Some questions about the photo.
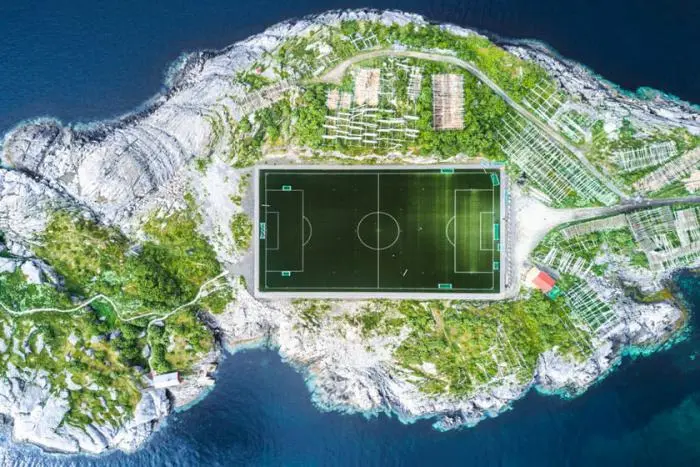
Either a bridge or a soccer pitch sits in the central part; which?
soccer pitch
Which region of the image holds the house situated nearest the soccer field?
right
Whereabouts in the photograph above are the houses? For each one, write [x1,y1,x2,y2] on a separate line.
[523,267,554,293]
[149,371,183,388]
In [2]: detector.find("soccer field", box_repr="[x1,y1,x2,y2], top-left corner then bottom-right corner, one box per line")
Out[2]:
[259,169,500,293]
